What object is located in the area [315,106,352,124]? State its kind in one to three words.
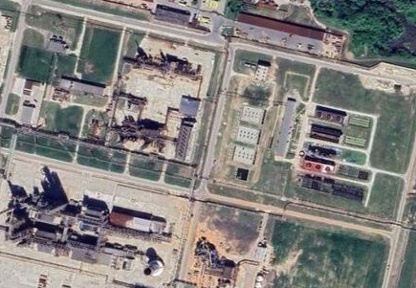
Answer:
cooling tower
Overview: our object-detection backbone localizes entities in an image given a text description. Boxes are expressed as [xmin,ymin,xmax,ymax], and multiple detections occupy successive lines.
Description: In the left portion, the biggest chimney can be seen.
[144,250,174,279]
